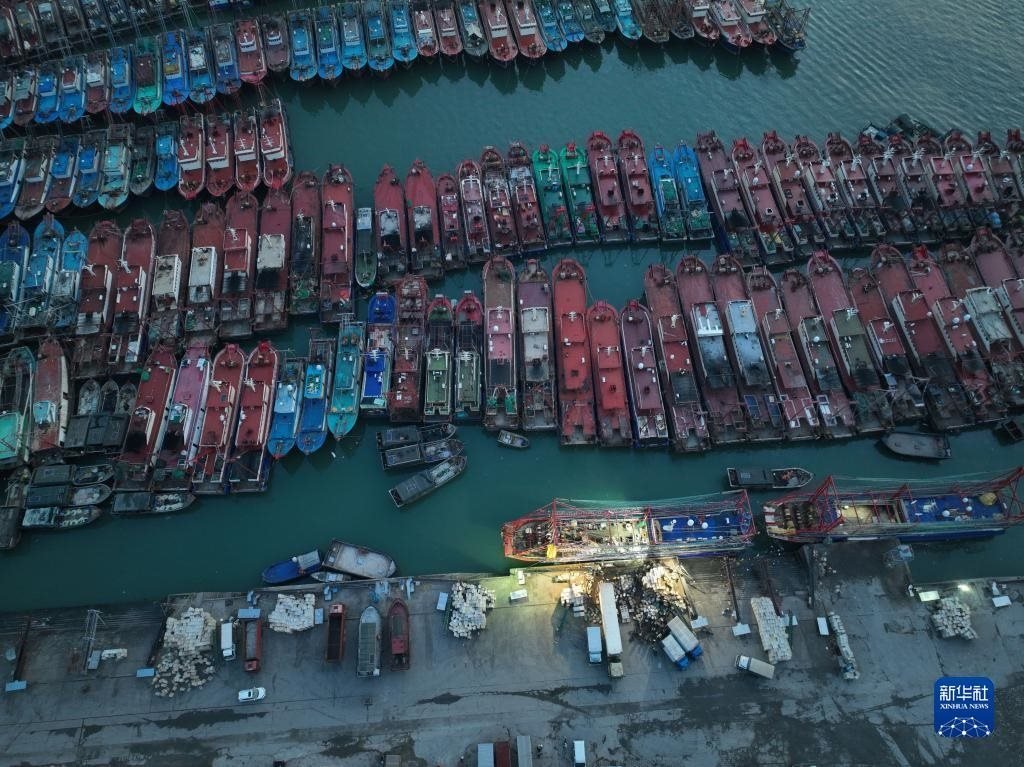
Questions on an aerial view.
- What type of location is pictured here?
parking lot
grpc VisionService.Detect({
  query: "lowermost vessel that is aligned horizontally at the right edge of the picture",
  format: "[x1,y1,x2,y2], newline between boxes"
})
[764,459,1024,547]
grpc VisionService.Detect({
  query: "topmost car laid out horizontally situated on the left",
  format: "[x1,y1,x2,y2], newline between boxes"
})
[237,685,268,702]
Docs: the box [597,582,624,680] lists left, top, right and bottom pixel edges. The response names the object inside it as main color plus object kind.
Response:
white truck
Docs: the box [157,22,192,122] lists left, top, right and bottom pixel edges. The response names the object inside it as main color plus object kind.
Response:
blue boat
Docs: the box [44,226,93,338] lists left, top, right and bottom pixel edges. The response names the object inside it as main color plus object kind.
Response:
blue boat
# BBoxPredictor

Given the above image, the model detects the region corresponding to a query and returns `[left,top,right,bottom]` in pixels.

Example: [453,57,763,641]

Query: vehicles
[325,604,347,662]
[237,685,268,702]
[586,626,603,667]
[382,752,401,767]
[659,628,690,672]
[240,619,265,674]
[597,582,624,680]
[732,651,777,679]
[667,613,703,662]
[477,741,495,767]
[219,618,241,664]
[515,734,533,767]
[571,740,587,767]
